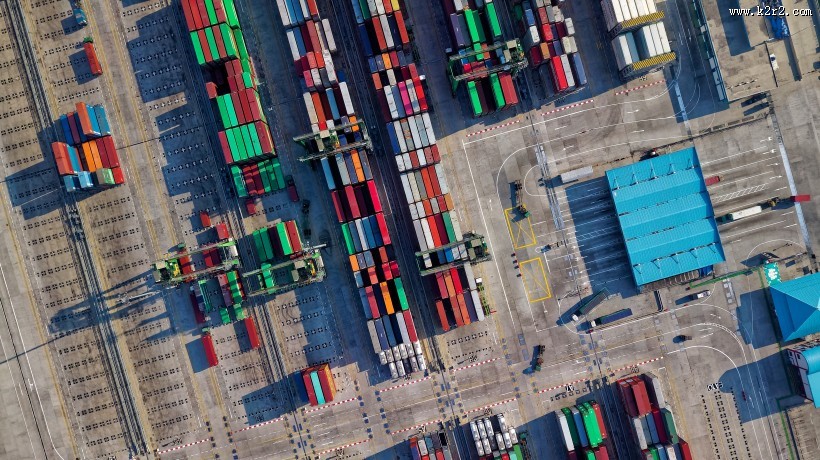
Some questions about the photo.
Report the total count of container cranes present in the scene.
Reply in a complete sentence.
The photo contains 5 container cranes.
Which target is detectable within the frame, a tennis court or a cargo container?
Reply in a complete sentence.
It is a cargo container that can be seen here.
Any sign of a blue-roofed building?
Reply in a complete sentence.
Yes, the picture does show a blue-roofed building.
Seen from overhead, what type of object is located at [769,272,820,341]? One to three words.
building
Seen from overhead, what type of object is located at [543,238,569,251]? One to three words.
vehicle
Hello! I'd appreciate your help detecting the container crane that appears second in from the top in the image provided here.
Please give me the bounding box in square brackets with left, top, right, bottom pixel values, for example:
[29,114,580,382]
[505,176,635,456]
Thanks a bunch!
[294,117,374,171]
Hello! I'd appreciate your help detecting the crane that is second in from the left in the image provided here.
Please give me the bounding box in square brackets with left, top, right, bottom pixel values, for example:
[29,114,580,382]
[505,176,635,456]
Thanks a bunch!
[242,249,328,298]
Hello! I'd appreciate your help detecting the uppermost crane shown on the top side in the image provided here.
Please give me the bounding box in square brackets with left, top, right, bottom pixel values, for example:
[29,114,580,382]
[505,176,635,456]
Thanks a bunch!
[445,34,532,98]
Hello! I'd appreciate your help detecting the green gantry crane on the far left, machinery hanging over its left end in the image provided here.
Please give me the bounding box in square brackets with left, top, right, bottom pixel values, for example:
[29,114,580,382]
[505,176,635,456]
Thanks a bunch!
[147,237,247,287]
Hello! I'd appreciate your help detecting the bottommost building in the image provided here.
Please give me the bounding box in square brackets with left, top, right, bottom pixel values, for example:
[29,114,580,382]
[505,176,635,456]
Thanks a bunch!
[786,338,820,411]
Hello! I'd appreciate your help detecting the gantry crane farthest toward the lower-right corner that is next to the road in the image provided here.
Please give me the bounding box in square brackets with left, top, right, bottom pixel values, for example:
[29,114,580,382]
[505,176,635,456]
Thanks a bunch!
[413,231,494,280]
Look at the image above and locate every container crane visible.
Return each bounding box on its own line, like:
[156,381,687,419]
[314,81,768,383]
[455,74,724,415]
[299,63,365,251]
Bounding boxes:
[294,117,374,171]
[413,231,494,280]
[242,249,328,298]
[147,237,247,287]
[445,34,532,98]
